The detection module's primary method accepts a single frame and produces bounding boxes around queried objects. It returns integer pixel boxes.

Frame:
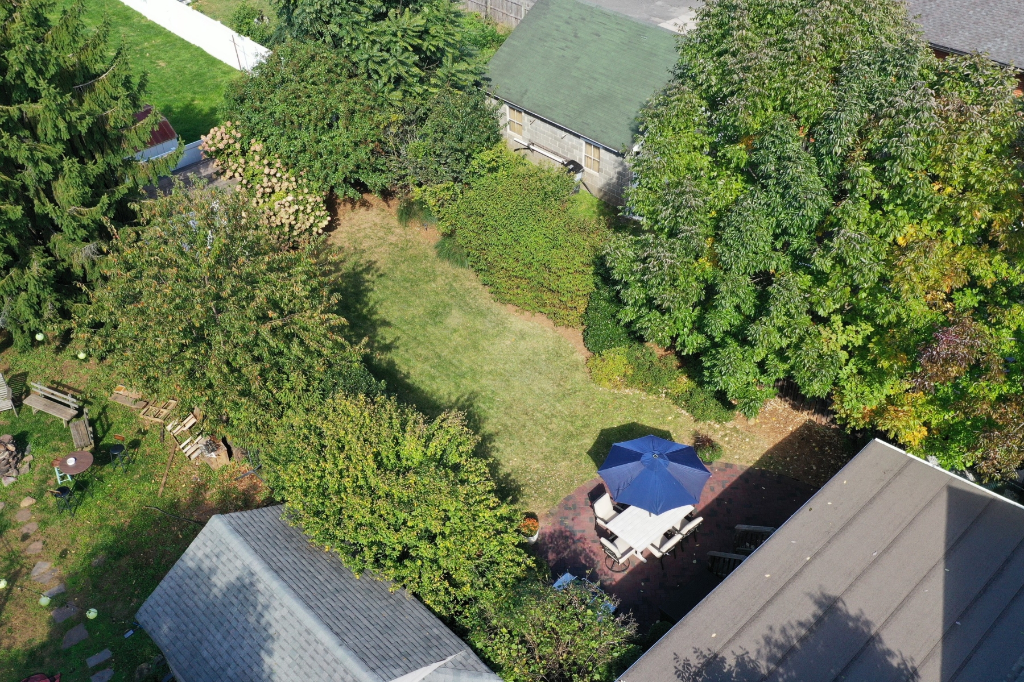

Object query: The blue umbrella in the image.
[598,438,712,519]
